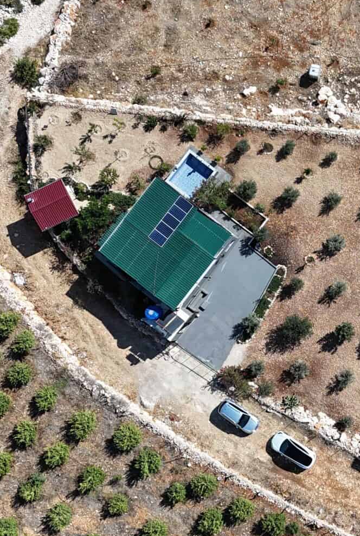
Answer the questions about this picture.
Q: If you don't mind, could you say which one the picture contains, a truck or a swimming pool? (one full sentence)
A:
I can see a swimming pool in this picture.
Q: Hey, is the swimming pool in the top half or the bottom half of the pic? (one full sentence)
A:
Seen from above, the swimming pool lies in the top half of the view.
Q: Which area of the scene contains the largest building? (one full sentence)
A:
Look in the center portion of the view to spot the largest building.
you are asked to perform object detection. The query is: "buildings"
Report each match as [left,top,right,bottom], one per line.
[95,176,240,318]
[24,179,81,231]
